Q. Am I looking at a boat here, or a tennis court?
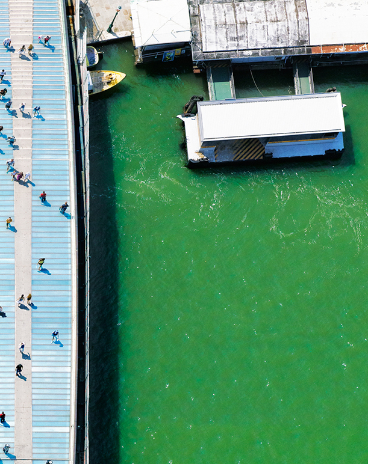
boat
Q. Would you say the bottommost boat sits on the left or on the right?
left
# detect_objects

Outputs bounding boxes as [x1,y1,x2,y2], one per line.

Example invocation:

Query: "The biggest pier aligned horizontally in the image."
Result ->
[176,88,350,166]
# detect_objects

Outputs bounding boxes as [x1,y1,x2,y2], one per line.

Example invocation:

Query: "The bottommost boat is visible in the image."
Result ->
[85,69,127,95]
